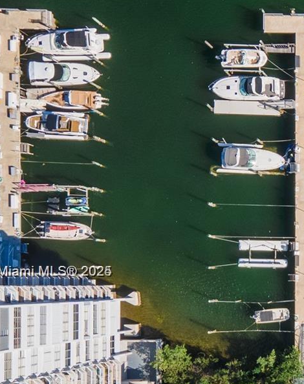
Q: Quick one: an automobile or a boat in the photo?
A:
boat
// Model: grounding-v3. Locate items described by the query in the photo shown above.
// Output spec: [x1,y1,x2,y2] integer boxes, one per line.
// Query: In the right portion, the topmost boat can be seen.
[216,48,268,68]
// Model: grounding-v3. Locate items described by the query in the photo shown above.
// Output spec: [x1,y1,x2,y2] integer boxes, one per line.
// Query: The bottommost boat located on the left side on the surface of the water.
[38,222,96,240]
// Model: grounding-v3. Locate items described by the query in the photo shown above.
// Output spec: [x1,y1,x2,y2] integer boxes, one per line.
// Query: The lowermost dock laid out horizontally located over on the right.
[214,101,284,116]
